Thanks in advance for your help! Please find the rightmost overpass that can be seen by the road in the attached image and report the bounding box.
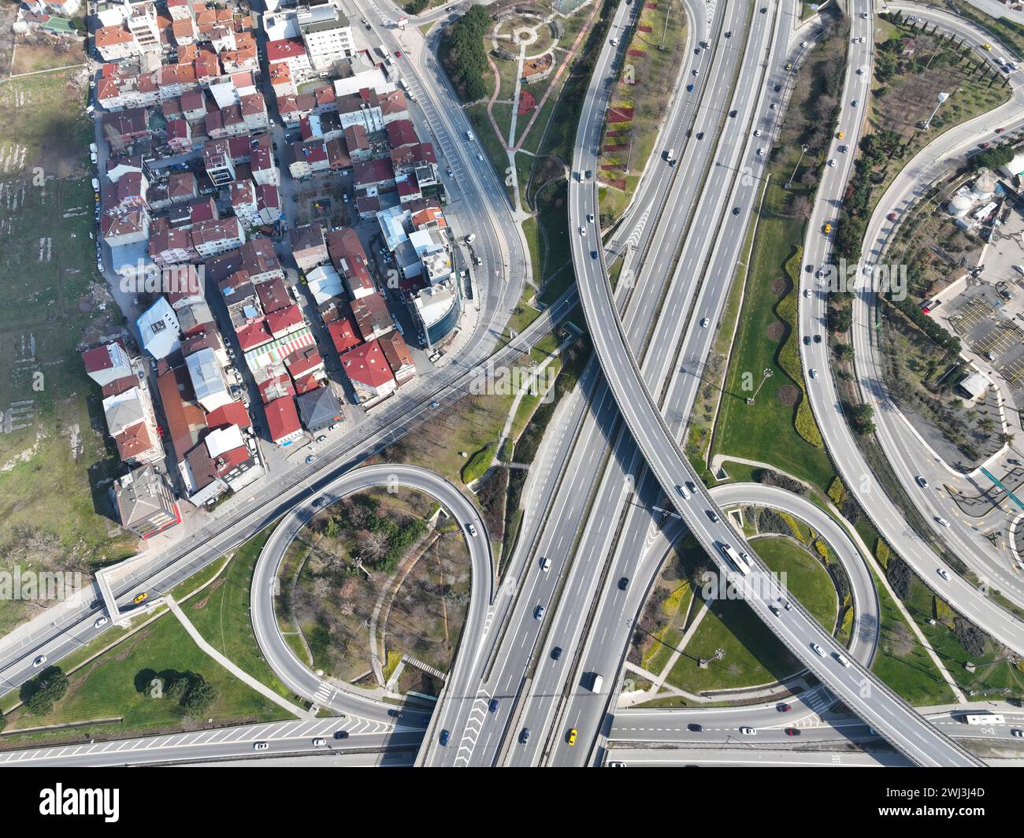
[566,0,1024,838]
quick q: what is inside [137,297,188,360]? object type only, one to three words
building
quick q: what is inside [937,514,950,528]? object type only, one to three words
vehicle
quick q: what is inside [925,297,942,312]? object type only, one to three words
vehicle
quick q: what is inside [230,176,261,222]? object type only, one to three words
house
